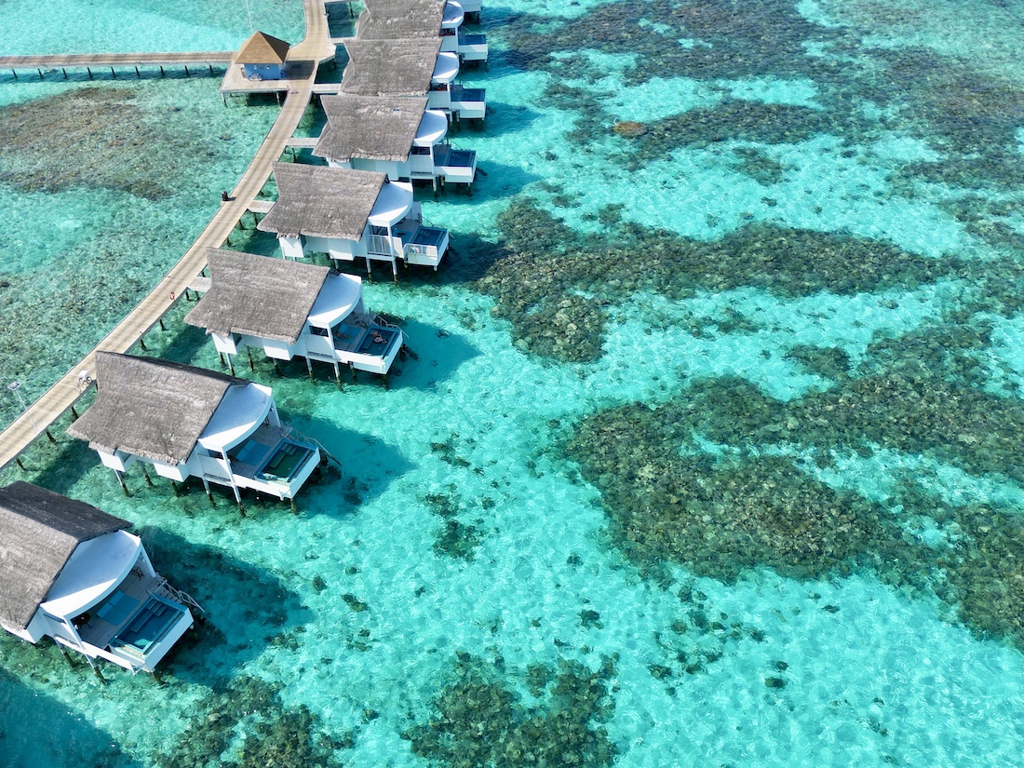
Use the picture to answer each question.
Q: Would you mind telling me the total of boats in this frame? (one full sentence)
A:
I count no boats.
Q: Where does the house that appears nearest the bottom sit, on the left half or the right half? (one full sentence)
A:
You can find the house that appears nearest the bottom on the left side of the picture.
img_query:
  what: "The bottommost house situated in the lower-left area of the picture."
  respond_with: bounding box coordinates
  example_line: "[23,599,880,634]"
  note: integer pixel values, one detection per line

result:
[0,476,216,677]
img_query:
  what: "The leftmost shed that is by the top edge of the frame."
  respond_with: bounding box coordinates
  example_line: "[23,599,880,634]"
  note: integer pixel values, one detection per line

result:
[236,32,292,79]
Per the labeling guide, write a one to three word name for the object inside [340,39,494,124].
house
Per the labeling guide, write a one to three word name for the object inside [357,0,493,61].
house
